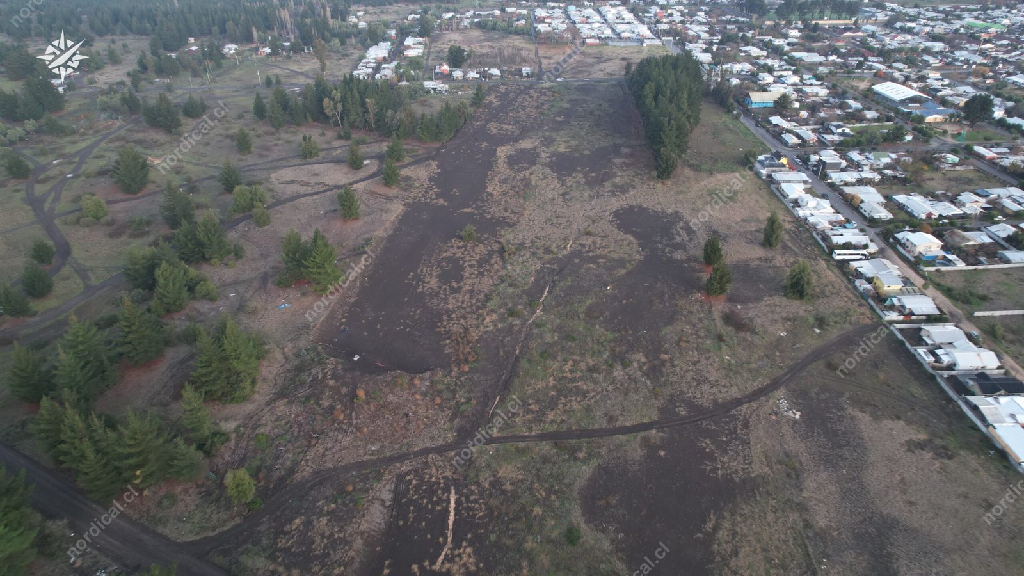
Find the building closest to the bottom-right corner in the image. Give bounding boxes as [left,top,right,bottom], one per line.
[982,422,1024,471]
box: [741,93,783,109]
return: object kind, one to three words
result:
building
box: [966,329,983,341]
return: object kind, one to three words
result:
vehicle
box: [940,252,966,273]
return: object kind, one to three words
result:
shed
